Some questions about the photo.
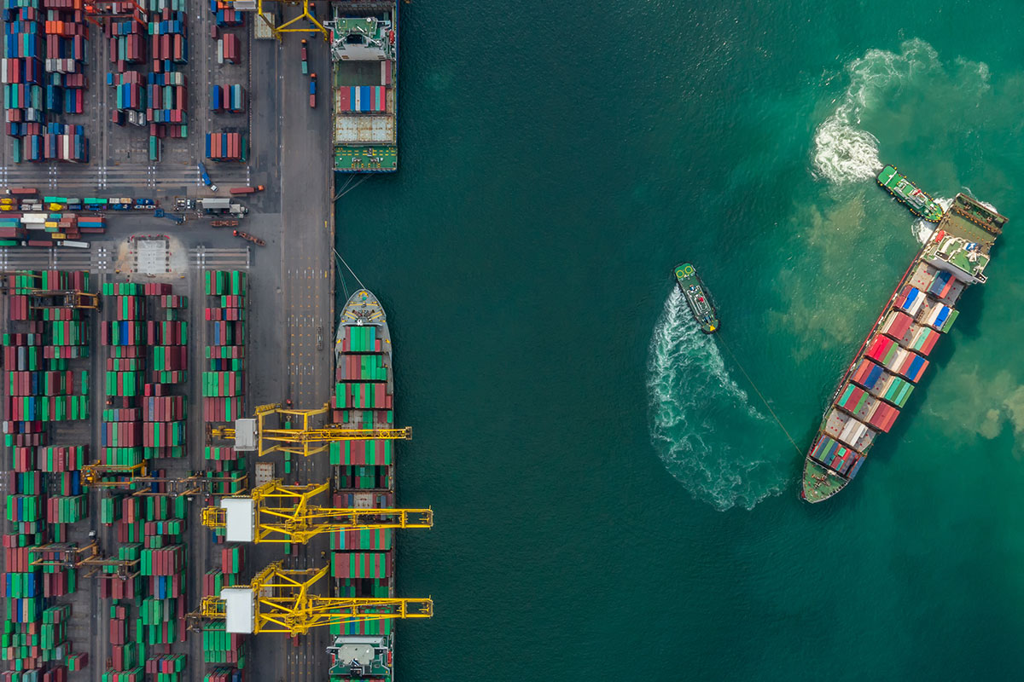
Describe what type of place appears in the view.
port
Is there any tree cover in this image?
No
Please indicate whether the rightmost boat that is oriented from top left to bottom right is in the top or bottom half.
top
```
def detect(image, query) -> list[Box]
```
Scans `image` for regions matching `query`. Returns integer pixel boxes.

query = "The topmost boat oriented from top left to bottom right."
[876,166,942,223]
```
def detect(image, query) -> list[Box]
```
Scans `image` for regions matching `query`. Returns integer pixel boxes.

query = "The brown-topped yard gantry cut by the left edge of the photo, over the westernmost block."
[0,270,42,294]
